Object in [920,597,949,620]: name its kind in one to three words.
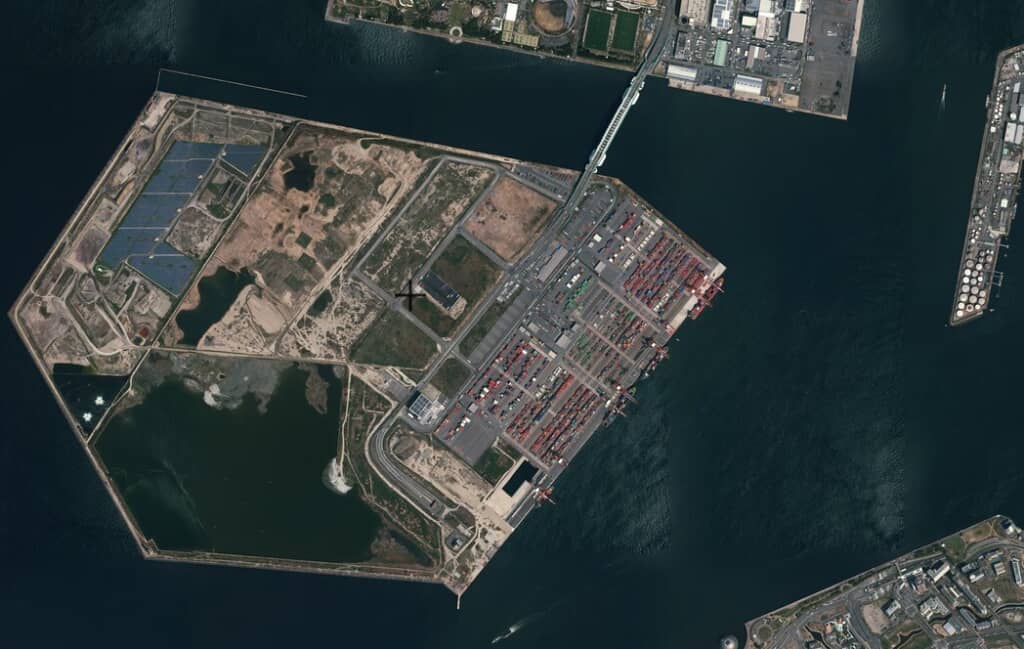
building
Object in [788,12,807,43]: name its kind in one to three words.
building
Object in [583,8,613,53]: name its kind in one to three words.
soccer field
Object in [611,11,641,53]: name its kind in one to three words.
soccer field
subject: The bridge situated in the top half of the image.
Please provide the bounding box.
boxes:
[522,0,676,256]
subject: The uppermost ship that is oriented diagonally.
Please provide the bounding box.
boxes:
[690,277,724,319]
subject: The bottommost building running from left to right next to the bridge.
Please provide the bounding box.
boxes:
[667,64,697,80]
